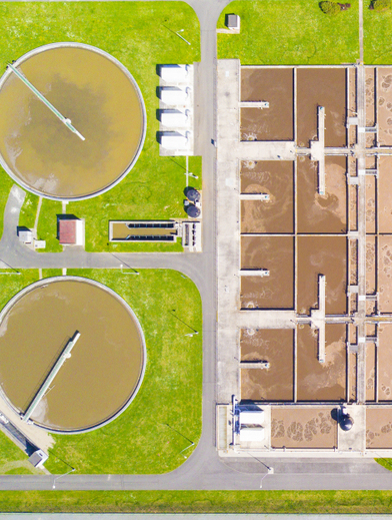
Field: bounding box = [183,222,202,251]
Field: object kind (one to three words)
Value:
house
